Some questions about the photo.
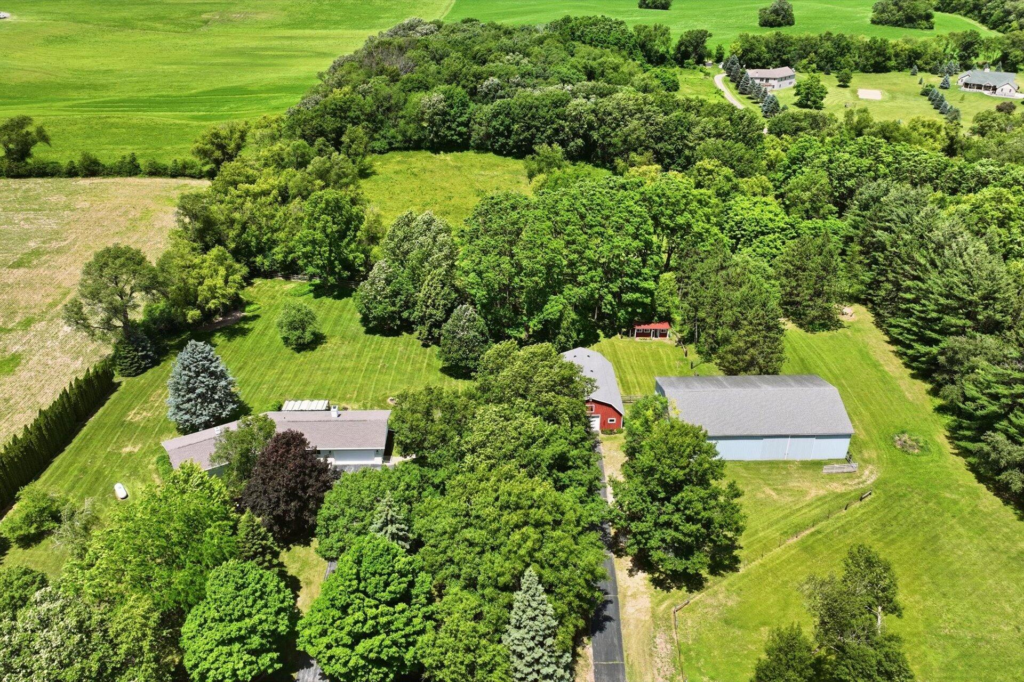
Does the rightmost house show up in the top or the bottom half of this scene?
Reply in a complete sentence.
The top half of the photo is where the rightmost house is.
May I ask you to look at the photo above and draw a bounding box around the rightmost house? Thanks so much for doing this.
[956,68,1024,96]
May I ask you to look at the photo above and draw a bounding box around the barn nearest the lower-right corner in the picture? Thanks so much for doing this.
[652,374,859,460]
